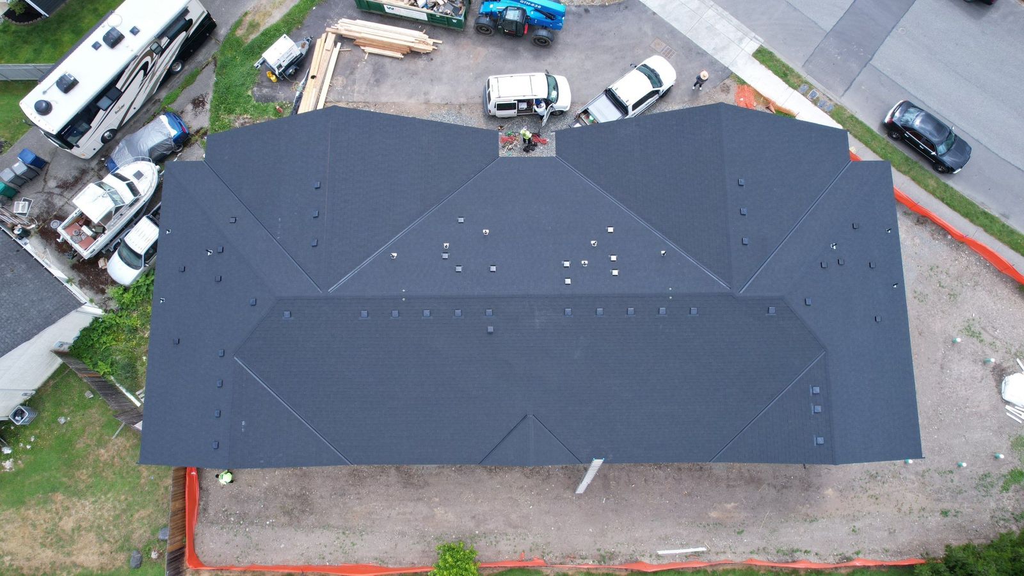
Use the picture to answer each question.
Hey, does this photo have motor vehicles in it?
Yes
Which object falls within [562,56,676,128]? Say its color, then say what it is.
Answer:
white truck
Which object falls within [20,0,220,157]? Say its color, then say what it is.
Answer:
white camper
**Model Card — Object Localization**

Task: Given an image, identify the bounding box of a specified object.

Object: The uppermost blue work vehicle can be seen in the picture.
[461,0,567,48]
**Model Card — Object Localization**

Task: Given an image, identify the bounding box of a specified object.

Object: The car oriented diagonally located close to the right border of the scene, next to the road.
[882,98,976,177]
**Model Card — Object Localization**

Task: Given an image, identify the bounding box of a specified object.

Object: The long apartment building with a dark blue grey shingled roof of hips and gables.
[139,102,922,468]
